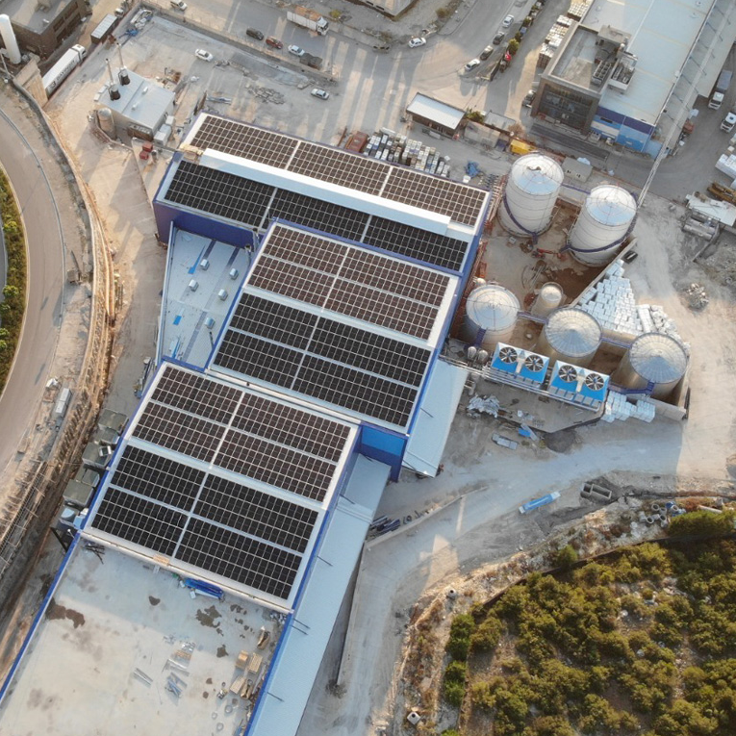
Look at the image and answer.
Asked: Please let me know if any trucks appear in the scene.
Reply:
Yes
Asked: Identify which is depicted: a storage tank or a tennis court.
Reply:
storage tank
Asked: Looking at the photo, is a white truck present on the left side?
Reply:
Yes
